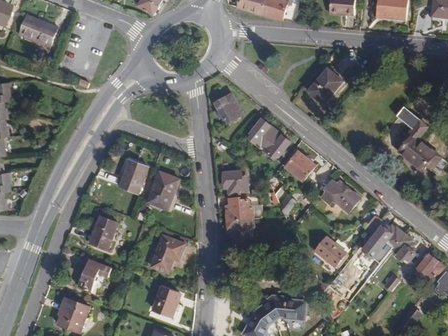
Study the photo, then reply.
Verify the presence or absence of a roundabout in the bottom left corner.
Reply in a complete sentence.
No, in the bottom left corner there is no roundabout.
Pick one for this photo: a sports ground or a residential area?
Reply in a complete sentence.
This image shows a residential area.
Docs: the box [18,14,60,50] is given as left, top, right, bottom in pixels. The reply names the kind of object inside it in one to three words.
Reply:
house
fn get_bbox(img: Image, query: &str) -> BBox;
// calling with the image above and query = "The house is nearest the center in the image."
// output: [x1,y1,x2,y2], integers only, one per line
[220,170,250,197]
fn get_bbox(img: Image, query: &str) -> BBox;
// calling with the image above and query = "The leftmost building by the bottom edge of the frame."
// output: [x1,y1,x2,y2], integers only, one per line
[54,296,92,336]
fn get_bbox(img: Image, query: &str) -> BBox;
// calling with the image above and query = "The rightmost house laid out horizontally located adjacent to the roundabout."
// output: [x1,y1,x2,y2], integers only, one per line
[235,0,289,24]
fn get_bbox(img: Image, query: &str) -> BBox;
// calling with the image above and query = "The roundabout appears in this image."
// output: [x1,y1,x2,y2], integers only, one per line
[126,0,234,95]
